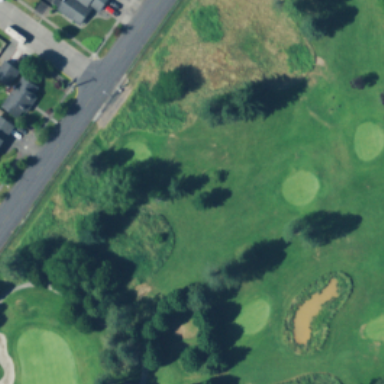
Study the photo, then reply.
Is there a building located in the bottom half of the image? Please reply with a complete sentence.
No, no building is visible in the bottom half of the image.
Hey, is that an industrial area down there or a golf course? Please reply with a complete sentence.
What you see here is a golf course.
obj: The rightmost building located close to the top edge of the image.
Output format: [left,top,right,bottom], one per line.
[50,0,98,25]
